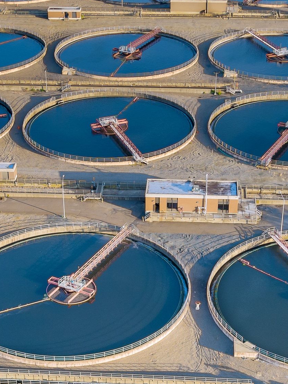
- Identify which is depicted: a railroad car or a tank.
tank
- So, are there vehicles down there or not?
No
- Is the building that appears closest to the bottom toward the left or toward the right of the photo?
right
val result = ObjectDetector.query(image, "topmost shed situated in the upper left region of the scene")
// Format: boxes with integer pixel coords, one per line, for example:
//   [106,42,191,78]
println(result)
[48,5,82,18]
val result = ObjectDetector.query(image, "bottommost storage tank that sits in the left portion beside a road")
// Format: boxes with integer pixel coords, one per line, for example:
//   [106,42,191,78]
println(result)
[0,221,190,367]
